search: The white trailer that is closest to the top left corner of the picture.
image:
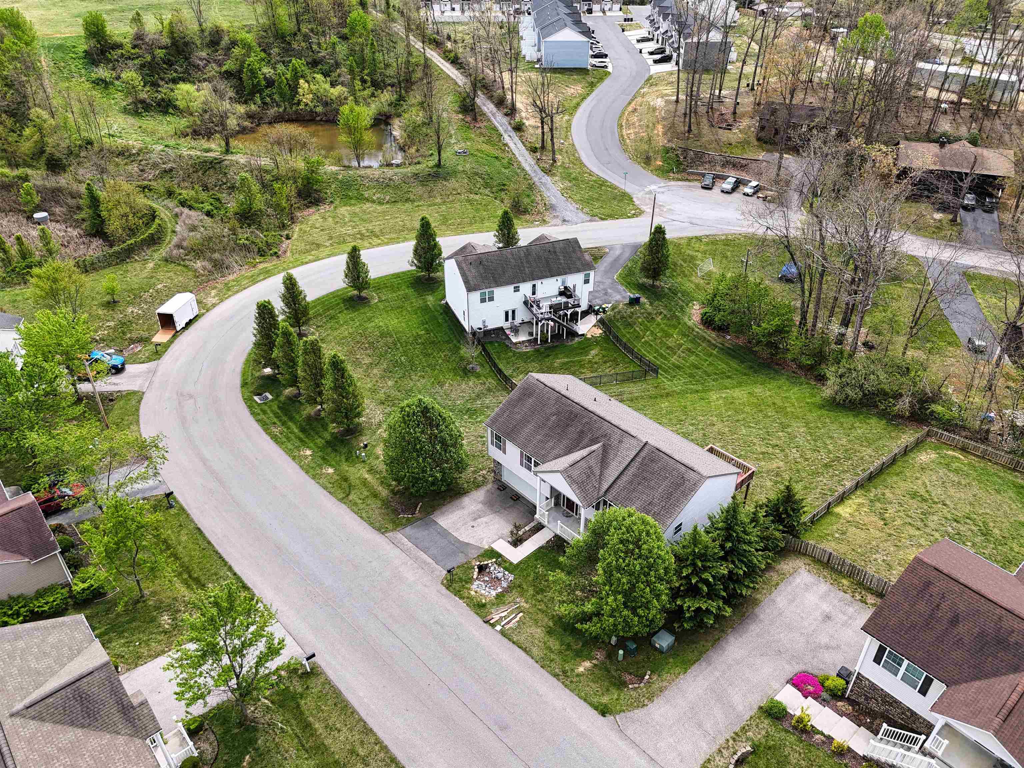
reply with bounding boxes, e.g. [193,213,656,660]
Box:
[150,293,196,340]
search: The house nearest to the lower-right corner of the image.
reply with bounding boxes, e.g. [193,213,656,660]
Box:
[846,535,1024,768]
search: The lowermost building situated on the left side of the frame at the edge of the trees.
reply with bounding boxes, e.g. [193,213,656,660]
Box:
[0,613,236,768]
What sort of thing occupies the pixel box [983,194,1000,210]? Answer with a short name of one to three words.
car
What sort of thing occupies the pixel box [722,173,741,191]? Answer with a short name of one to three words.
vehicle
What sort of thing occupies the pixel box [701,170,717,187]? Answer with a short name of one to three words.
vehicle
